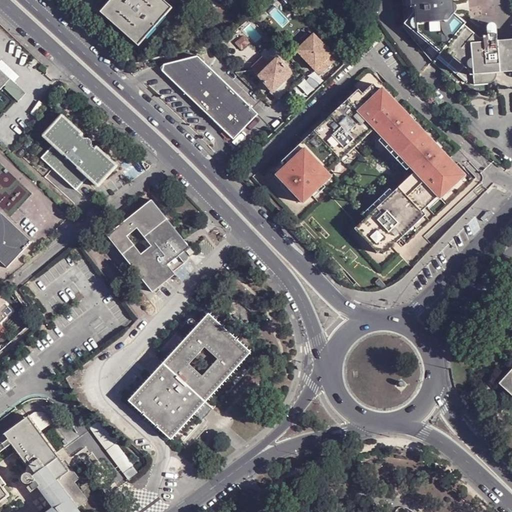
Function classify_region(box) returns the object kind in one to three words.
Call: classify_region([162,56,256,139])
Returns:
building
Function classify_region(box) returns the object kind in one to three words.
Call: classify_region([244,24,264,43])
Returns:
swimming pool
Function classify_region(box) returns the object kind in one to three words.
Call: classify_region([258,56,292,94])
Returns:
house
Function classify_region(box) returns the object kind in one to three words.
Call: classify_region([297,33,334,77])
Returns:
house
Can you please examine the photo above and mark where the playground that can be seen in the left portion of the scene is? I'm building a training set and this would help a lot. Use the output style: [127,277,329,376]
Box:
[0,164,31,217]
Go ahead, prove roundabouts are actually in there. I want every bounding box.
[320,308,447,434]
